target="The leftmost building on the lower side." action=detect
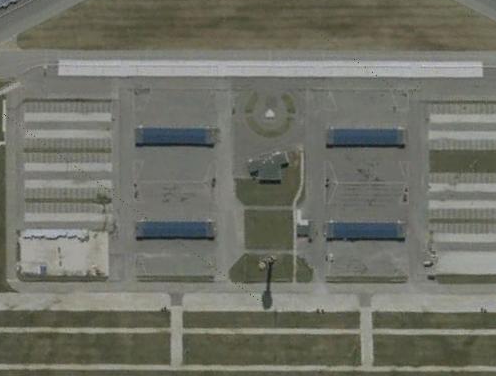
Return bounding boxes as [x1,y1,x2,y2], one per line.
[136,221,214,238]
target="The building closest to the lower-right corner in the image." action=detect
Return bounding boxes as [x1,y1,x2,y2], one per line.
[327,221,405,239]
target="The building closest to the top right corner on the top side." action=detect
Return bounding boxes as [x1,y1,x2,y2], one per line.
[327,127,404,145]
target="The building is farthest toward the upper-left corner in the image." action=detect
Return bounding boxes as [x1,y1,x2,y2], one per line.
[136,126,214,144]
